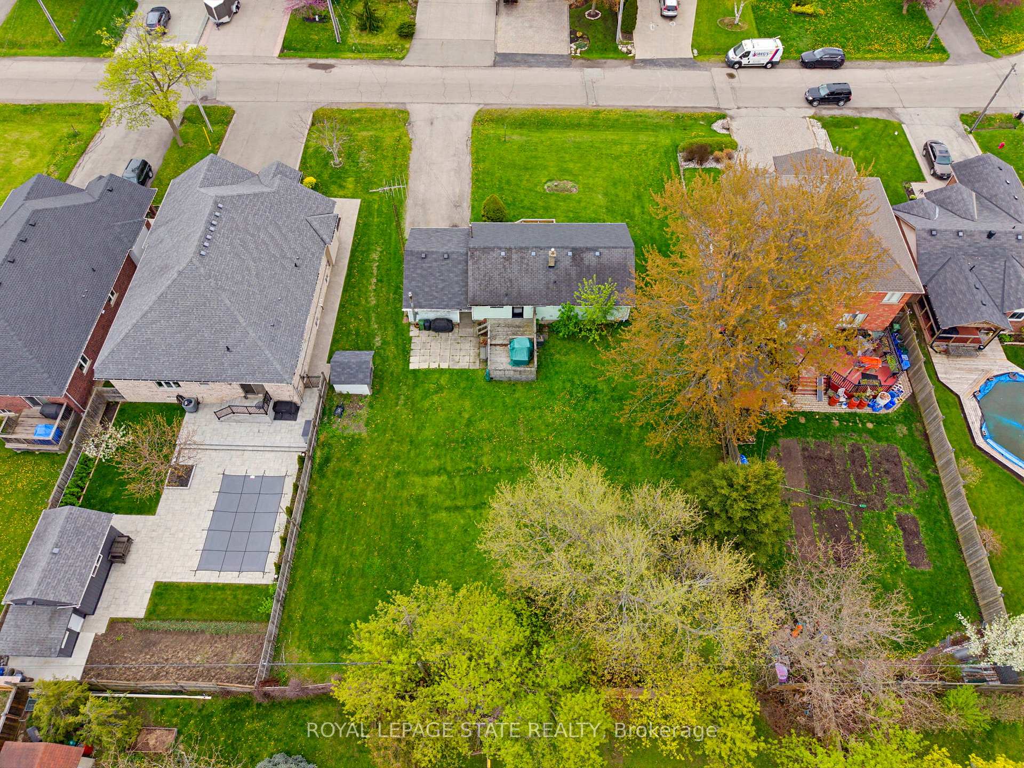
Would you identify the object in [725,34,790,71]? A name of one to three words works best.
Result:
van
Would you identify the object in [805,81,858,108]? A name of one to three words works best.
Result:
car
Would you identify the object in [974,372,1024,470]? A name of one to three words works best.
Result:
swimming pool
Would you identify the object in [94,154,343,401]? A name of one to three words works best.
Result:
house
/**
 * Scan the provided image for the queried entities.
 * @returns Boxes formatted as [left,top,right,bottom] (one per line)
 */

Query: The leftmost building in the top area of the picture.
[0,173,160,411]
